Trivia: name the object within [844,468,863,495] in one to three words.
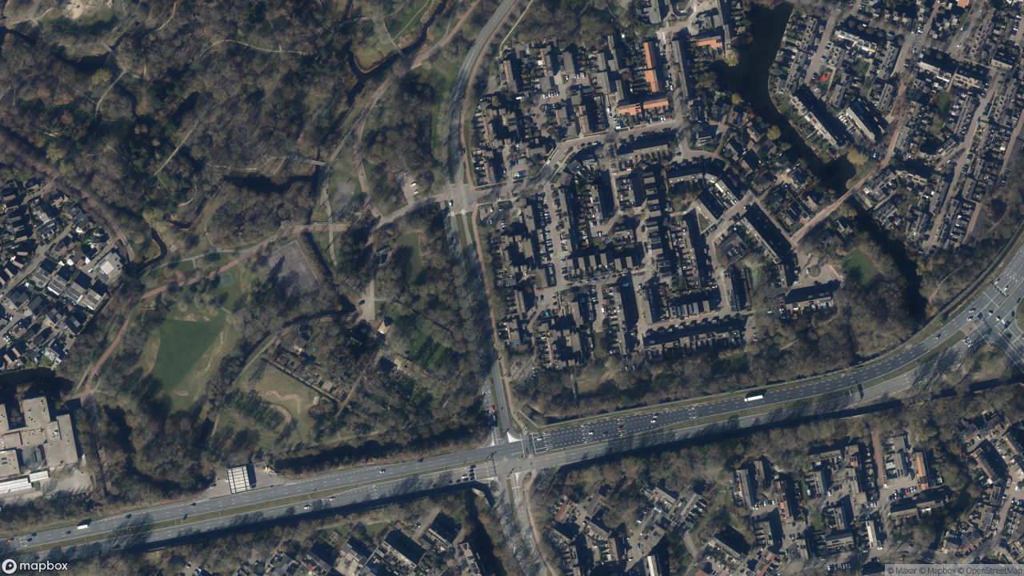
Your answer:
house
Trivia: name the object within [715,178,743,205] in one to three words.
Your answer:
building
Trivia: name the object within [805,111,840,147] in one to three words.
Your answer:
building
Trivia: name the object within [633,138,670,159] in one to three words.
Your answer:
house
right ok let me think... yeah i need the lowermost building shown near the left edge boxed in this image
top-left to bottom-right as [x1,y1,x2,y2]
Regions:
[0,396,78,493]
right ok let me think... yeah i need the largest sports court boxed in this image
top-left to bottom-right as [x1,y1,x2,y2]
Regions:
[263,240,318,302]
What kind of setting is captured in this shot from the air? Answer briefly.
residential area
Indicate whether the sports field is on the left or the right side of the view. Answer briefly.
left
